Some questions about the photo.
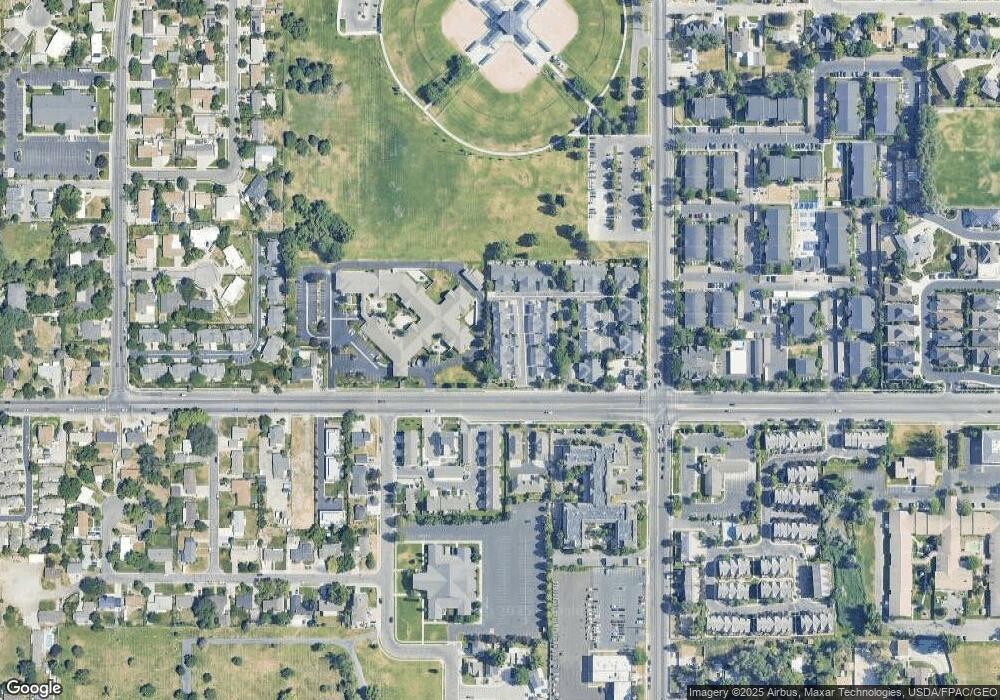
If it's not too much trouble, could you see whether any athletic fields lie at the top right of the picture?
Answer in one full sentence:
Yes, I can see an athletic field at the top right of the picture.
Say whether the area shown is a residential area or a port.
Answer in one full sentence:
This looks like a residential area.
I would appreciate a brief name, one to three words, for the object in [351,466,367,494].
house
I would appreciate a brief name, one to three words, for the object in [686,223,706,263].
building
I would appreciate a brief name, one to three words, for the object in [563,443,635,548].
building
